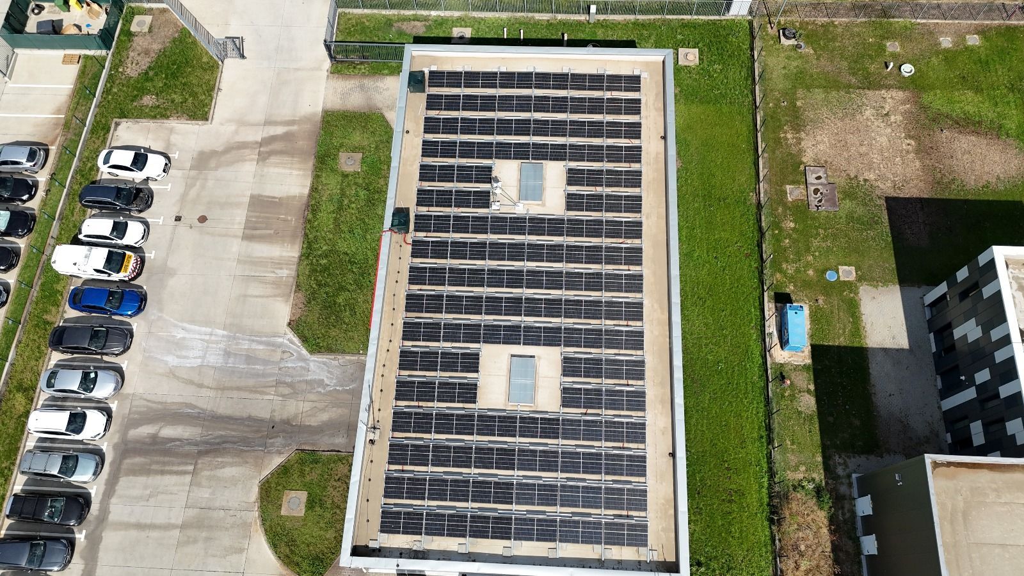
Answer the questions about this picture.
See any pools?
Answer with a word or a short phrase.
No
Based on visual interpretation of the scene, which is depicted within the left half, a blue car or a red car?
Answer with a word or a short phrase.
blue car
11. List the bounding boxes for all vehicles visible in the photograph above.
[6,489,92,531]
[28,404,112,443]
[0,532,76,576]
[67,281,148,317]
[0,145,49,176]
[20,443,105,484]
[47,320,134,359]
[49,242,144,285]
[96,145,172,181]
[0,171,39,206]
[79,215,150,251]
[0,202,38,237]
[81,174,154,216]
[39,363,124,401]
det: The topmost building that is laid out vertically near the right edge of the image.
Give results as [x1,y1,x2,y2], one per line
[924,245,1024,456]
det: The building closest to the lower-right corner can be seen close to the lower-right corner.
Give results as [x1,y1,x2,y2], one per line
[849,452,1024,576]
